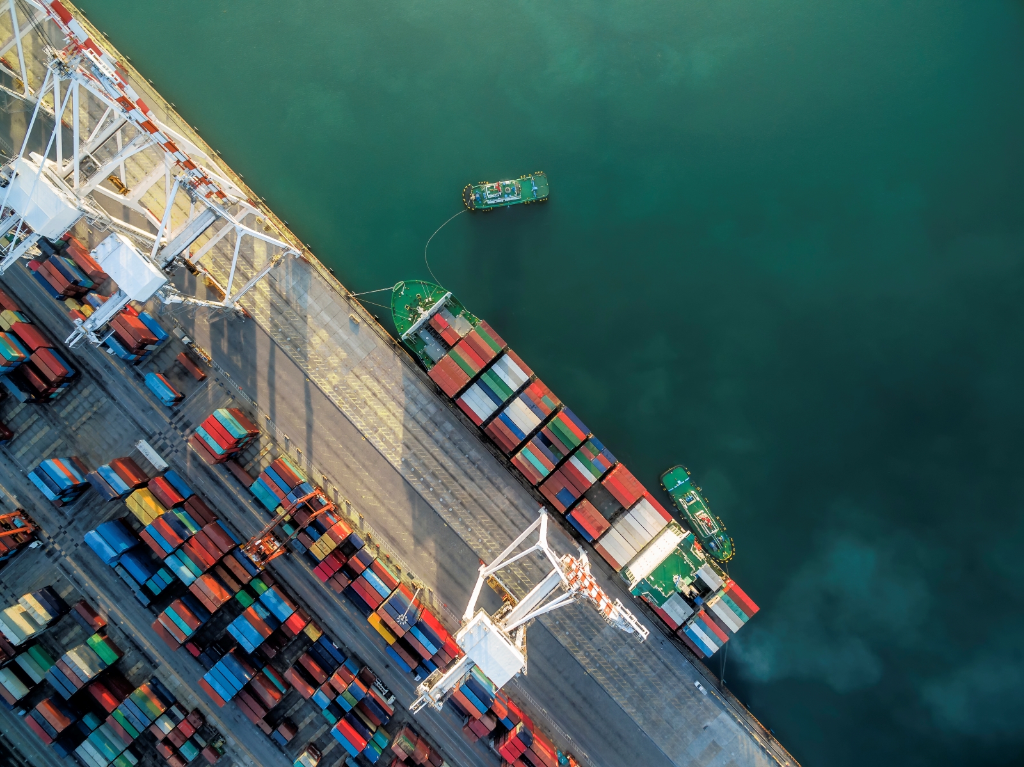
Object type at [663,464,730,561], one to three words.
boat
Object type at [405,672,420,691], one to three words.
vehicle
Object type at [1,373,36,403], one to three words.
shipping container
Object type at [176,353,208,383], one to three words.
shipping container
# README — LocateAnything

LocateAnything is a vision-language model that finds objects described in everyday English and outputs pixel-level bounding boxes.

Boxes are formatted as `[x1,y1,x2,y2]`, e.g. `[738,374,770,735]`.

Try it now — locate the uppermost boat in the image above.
[462,169,549,211]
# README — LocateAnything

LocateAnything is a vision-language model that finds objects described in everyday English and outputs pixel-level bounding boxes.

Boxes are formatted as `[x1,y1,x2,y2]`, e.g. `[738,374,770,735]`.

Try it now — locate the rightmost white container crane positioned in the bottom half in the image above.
[406,504,654,728]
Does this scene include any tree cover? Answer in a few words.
No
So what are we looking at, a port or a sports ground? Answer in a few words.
port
